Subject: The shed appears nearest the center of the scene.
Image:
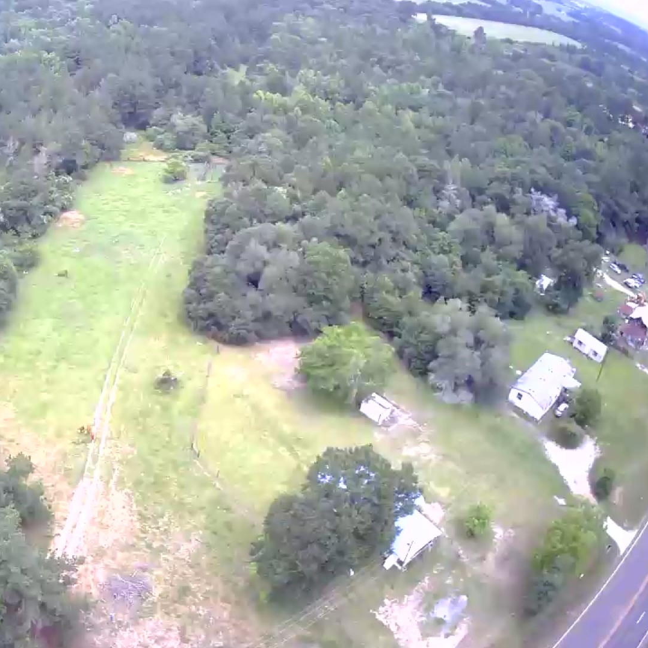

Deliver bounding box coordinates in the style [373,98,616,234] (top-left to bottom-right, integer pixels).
[356,395,402,435]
